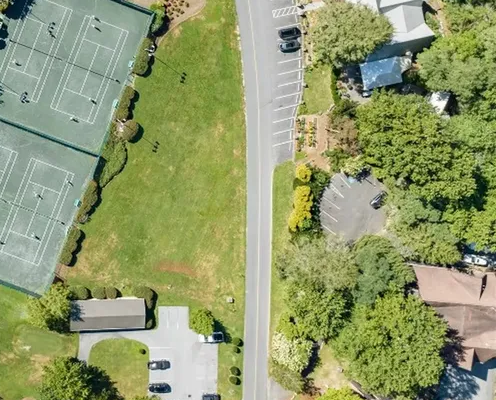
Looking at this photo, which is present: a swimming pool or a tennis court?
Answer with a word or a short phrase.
tennis court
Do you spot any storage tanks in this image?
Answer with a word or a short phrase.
No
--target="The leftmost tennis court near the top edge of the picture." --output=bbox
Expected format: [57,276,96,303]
[0,0,85,130]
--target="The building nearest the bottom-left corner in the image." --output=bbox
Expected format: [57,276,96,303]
[70,295,147,331]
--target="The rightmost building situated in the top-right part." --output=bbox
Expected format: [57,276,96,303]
[422,91,450,113]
